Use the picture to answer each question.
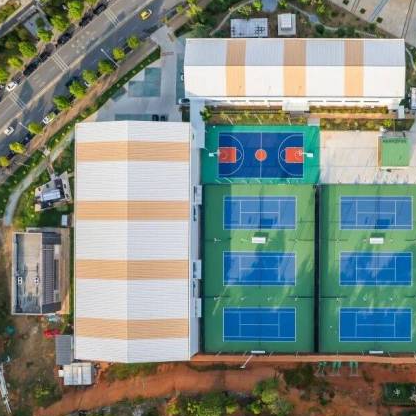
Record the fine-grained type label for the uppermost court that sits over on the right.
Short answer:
basketball court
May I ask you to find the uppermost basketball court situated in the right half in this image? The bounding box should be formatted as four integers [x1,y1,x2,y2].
[201,125,319,183]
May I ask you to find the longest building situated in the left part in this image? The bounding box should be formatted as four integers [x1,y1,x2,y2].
[74,120,204,365]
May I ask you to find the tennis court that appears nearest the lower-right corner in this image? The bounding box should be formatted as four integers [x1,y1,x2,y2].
[320,298,416,353]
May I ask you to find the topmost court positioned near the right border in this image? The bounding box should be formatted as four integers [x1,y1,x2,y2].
[320,184,416,240]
